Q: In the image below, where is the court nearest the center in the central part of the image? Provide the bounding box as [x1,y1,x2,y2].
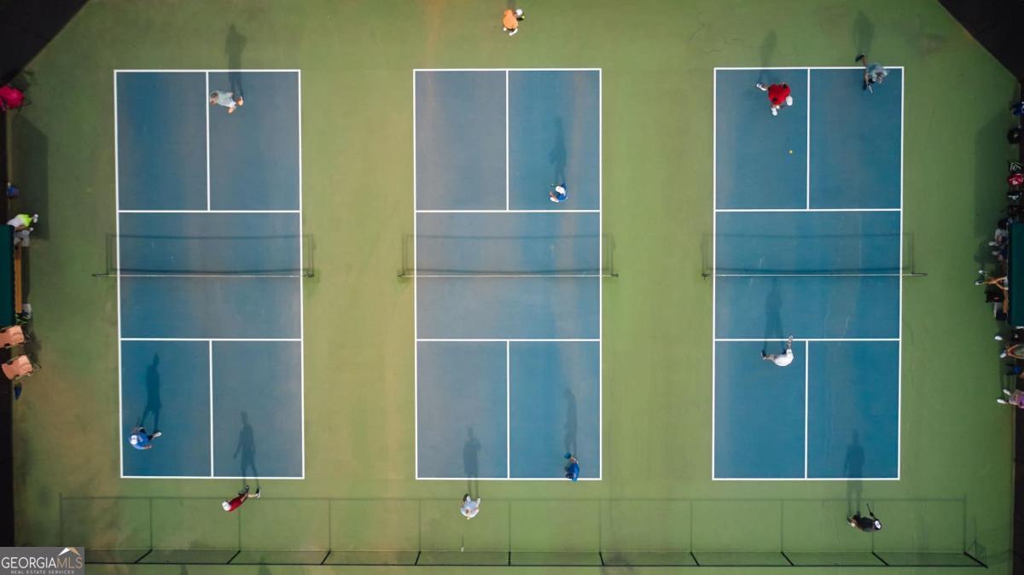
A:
[413,68,602,480]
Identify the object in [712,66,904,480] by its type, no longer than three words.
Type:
sports court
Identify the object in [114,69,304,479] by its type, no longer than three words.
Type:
sports court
